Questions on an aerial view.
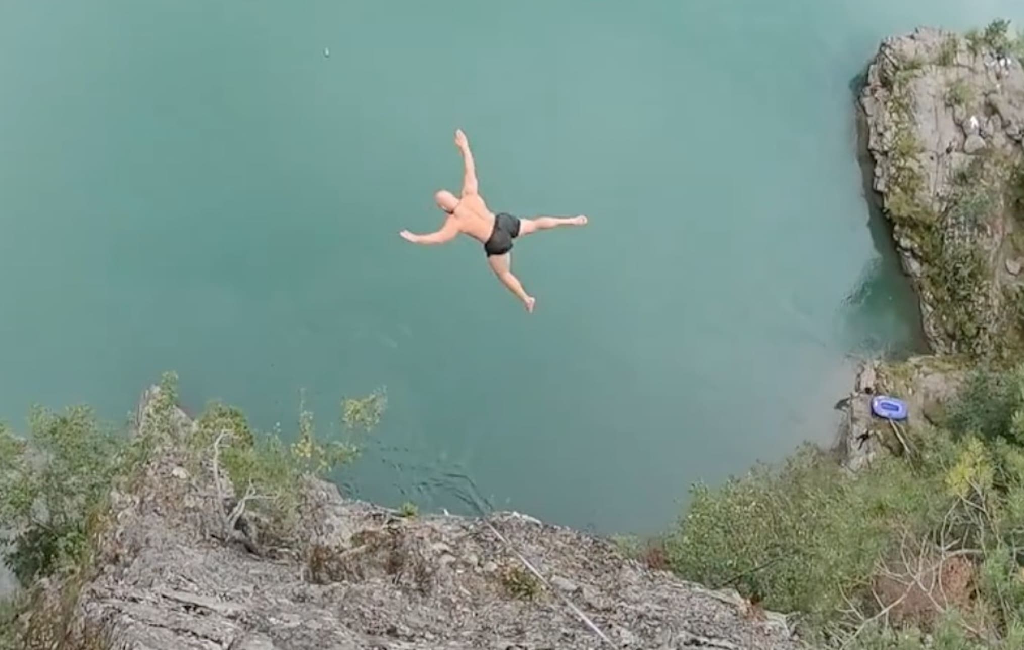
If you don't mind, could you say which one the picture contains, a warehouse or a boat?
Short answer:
boat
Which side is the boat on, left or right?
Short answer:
right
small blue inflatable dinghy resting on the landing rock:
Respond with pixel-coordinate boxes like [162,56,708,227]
[874,395,913,420]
